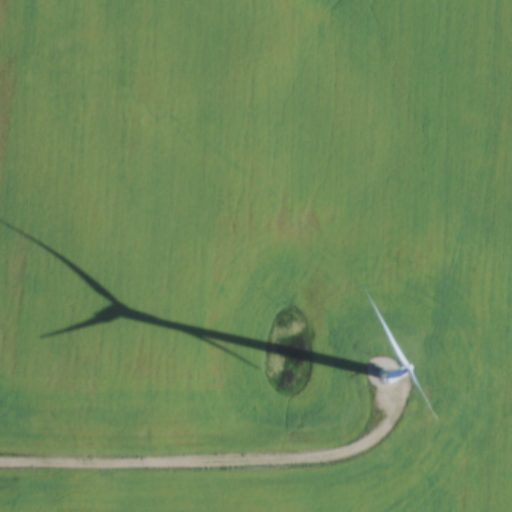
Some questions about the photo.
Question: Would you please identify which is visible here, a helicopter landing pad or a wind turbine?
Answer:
wind turbine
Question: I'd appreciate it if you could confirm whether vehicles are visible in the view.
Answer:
No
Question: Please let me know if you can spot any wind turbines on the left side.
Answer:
No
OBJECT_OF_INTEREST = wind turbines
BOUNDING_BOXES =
[370,296,438,420]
